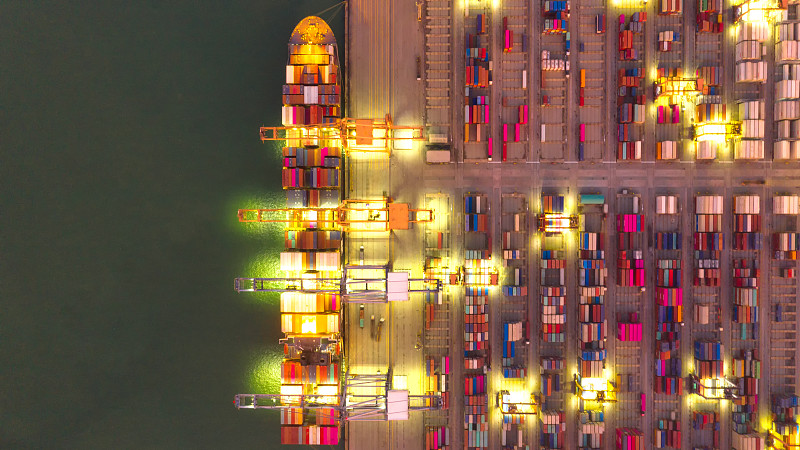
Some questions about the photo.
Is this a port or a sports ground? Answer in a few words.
port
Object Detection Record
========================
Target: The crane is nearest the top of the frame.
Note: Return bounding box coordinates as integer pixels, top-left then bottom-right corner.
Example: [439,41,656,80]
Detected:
[730,0,784,21]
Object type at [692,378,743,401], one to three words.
container crane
